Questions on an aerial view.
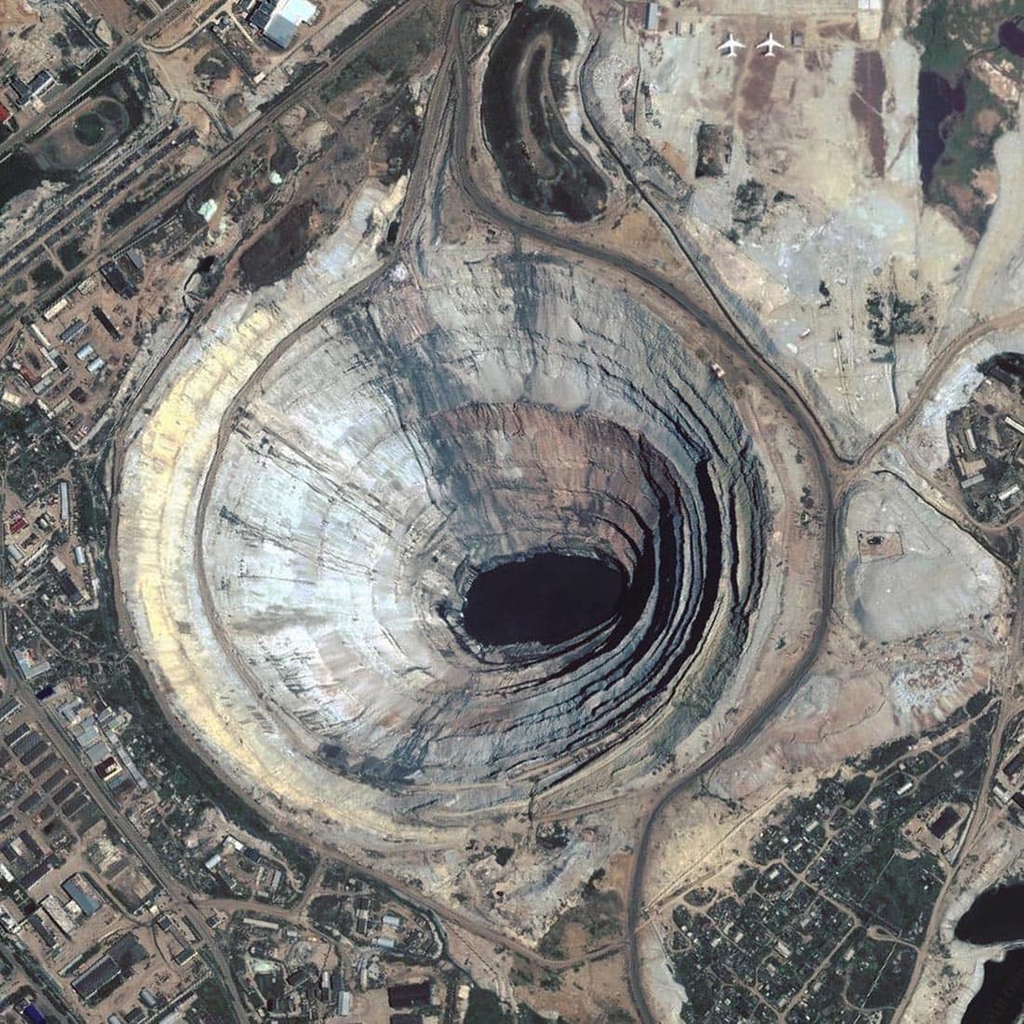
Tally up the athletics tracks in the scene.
1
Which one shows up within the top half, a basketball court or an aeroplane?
aeroplane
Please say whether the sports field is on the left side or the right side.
left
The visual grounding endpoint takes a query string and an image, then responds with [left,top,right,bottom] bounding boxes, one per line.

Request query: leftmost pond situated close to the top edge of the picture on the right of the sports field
[481,4,609,222]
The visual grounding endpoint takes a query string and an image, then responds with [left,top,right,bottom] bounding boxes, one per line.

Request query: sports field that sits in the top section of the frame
[34,94,128,168]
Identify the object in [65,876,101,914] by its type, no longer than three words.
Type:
hangar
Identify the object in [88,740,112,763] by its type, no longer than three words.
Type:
building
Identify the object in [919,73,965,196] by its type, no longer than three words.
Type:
pond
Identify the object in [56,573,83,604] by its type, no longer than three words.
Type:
building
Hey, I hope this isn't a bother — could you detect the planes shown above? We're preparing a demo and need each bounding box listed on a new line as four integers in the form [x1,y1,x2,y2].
[719,33,745,57]
[758,33,783,56]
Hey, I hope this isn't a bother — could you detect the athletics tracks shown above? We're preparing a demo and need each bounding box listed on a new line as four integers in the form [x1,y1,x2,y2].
[34,94,128,168]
